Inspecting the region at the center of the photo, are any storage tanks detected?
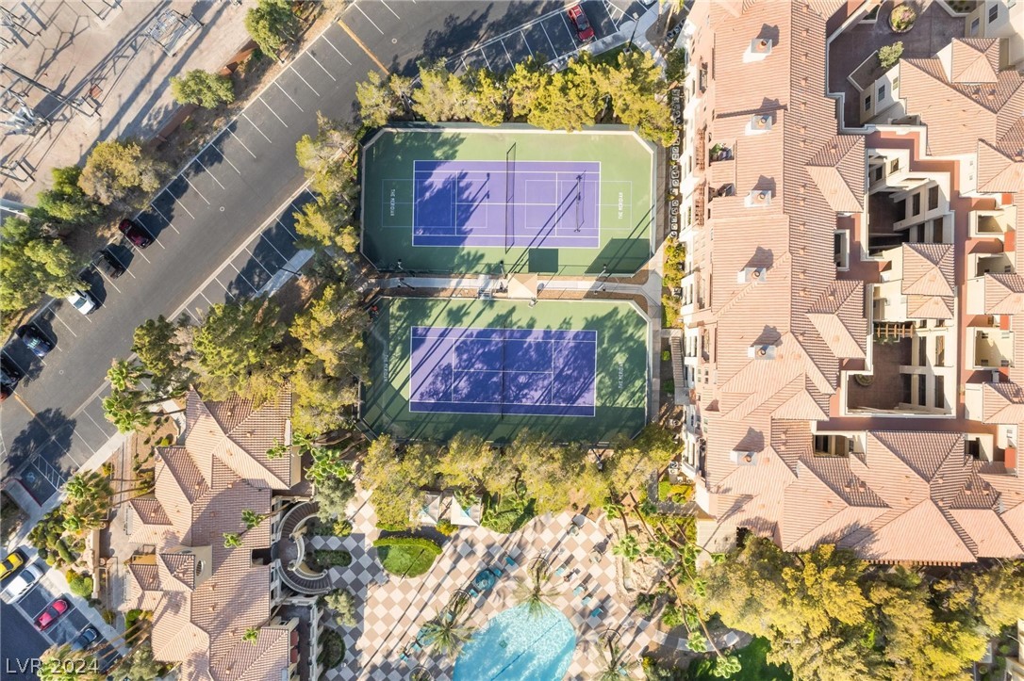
No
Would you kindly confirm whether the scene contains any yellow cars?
Yes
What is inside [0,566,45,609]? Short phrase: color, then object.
white car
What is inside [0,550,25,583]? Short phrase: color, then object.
yellow car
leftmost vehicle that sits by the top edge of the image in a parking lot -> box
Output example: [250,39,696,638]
[568,0,597,41]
